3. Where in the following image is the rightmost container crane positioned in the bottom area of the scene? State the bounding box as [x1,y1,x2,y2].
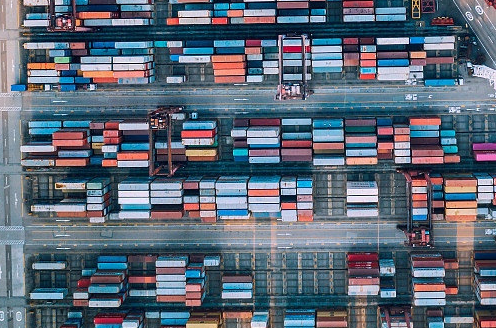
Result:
[396,163,435,244]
